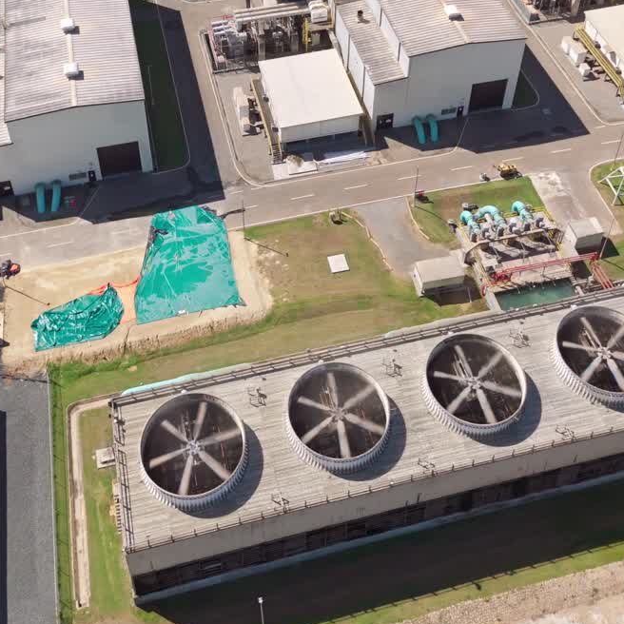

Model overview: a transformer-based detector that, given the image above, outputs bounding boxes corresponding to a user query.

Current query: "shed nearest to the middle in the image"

[412,252,468,295]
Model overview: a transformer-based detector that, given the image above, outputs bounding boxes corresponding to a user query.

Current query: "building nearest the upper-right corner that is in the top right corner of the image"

[571,0,624,103]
